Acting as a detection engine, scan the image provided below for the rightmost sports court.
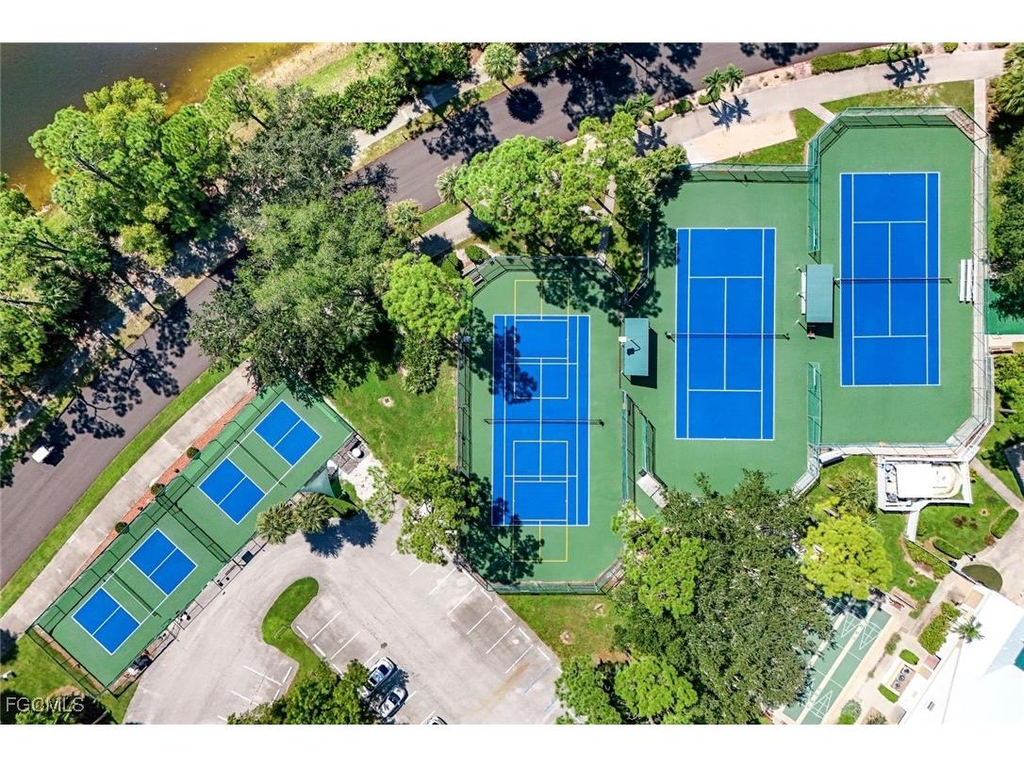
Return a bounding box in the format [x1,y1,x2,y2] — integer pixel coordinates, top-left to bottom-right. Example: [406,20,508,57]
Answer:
[984,279,1024,345]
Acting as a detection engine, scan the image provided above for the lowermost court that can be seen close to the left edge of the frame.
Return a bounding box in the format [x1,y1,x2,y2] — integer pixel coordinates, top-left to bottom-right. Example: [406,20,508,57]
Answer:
[38,497,233,688]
